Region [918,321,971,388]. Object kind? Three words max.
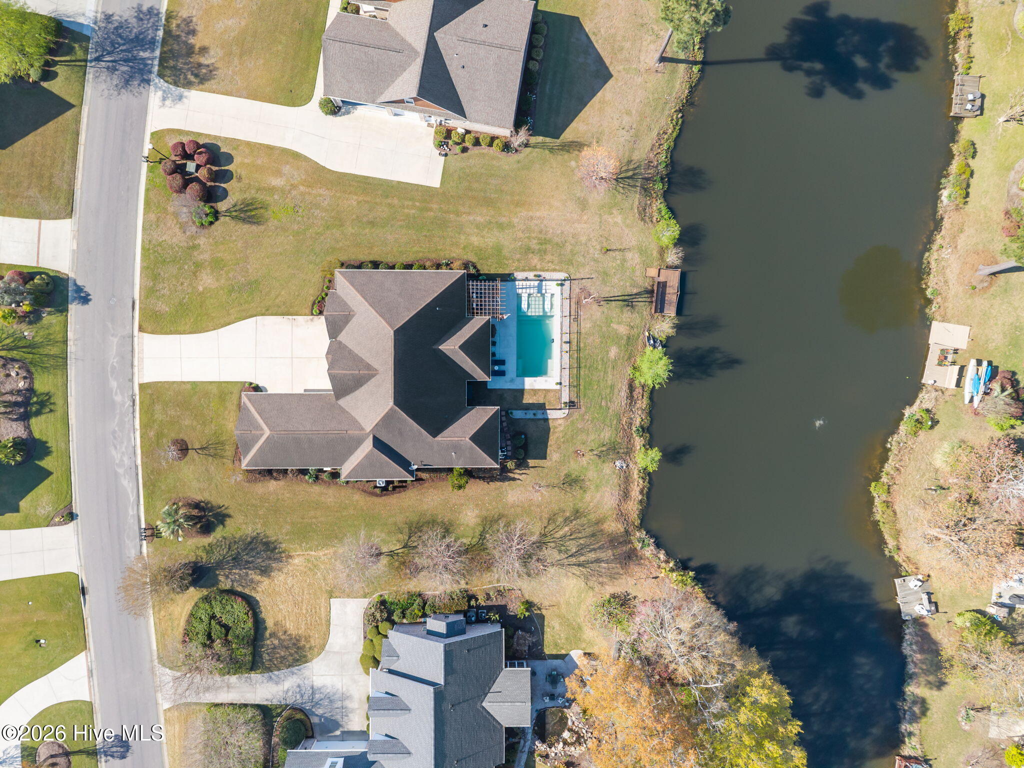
pier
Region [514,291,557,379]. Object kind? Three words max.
swimming pool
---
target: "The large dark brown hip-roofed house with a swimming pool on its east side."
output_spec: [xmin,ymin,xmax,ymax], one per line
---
[232,270,500,481]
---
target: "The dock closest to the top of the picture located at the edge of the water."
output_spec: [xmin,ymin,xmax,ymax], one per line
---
[945,75,982,119]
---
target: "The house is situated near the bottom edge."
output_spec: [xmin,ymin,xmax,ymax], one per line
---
[284,614,531,768]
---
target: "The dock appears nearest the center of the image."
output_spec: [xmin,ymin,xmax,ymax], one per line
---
[646,268,681,316]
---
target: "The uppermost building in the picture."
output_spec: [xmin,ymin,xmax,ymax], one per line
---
[322,0,535,133]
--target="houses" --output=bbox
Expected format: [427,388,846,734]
[232,270,500,481]
[284,614,531,768]
[322,0,535,133]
